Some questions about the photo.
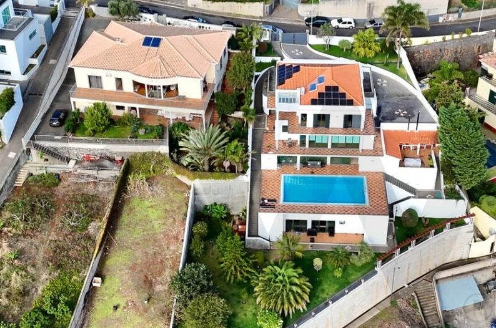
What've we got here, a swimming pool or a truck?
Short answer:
swimming pool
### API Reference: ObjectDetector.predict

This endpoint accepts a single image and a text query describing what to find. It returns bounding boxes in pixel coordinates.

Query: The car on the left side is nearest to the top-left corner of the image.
[50,108,66,128]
